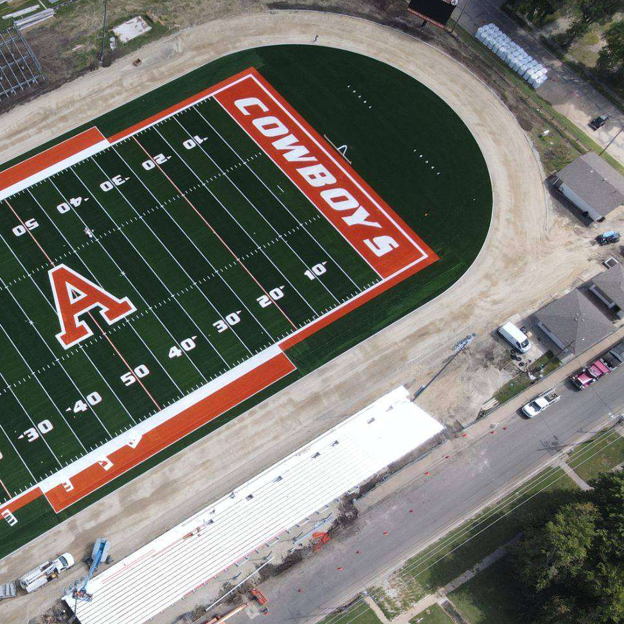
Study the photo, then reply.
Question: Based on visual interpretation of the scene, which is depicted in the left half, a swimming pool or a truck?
truck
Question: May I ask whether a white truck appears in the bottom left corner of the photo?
Yes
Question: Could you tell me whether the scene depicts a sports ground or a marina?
sports ground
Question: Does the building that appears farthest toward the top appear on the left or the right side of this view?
right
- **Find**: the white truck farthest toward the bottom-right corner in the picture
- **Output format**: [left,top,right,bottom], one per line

[521,385,567,417]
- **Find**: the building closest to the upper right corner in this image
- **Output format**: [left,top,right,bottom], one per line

[541,152,624,225]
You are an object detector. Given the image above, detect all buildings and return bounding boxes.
[530,290,618,370]
[578,246,624,323]
[541,152,624,225]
